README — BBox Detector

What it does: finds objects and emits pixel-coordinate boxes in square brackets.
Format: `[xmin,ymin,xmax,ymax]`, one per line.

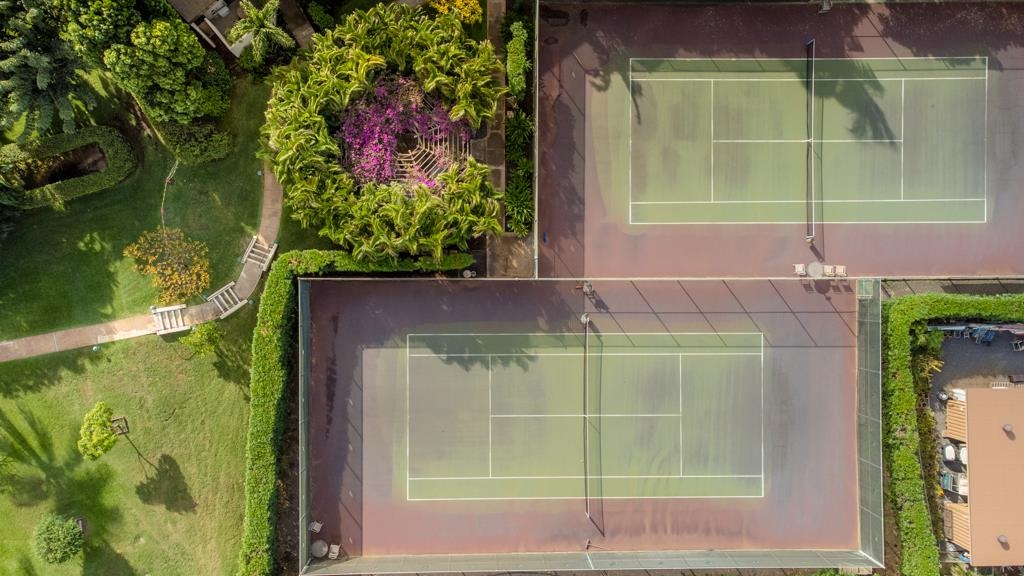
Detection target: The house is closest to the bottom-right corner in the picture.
[931,388,1024,568]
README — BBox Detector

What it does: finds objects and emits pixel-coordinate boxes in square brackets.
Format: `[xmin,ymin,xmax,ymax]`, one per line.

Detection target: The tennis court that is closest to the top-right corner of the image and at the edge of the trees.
[538,2,1024,278]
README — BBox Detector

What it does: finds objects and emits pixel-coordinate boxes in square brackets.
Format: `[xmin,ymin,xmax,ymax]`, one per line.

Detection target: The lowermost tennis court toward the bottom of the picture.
[312,279,857,552]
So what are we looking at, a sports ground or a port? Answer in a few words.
sports ground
